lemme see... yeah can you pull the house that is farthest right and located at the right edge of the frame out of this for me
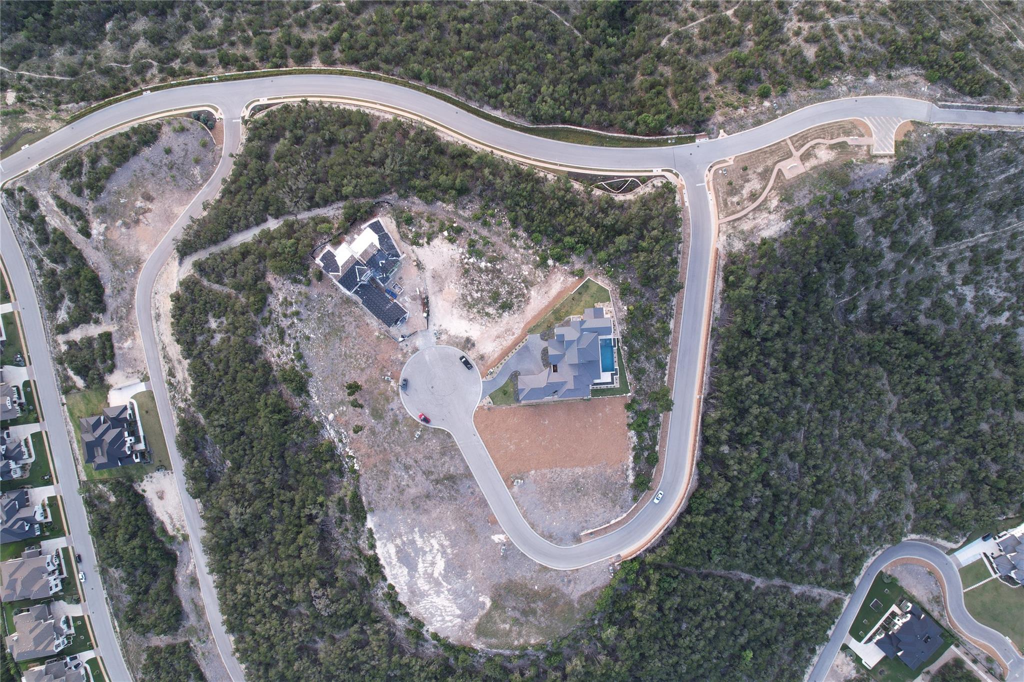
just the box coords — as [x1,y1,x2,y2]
[987,524,1024,585]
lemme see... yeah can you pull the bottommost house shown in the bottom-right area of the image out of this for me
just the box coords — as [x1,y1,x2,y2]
[868,597,948,674]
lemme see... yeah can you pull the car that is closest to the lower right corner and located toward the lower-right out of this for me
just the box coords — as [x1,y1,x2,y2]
[981,532,996,544]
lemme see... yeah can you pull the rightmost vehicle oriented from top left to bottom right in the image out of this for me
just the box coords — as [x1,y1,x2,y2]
[458,355,473,371]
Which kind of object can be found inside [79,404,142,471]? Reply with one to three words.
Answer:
house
